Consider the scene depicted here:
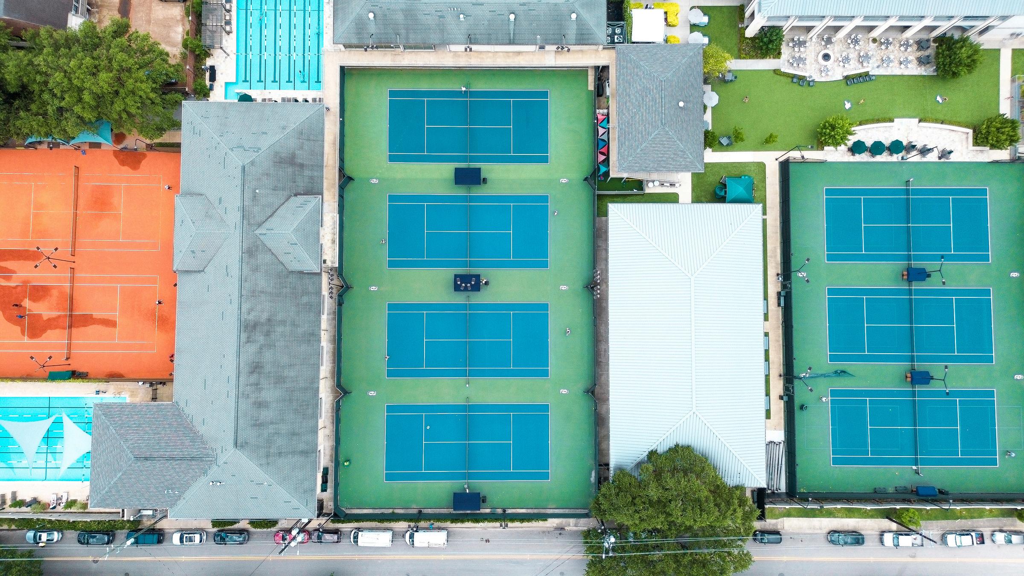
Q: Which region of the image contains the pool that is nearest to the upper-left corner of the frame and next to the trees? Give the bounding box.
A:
[222,0,324,101]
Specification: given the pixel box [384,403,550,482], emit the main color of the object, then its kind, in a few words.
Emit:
blue tennis court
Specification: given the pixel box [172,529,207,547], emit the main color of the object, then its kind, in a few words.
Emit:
white car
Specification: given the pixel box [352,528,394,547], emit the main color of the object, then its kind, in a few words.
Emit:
white vehicle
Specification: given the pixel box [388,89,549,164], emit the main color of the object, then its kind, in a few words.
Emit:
blue tennis court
